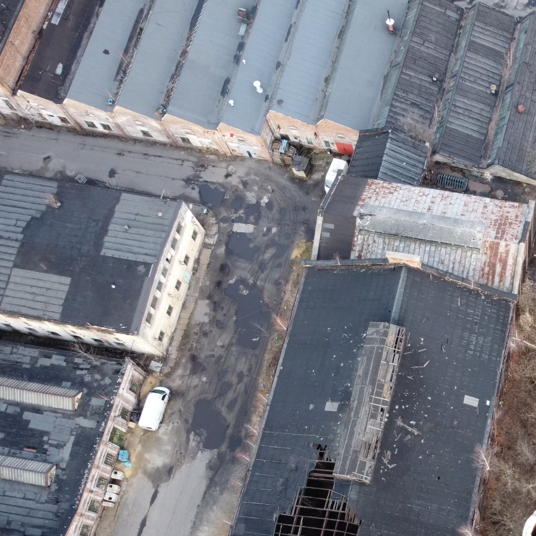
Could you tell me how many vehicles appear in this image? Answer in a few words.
2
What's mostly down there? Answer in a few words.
buildings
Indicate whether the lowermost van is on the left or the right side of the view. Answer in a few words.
left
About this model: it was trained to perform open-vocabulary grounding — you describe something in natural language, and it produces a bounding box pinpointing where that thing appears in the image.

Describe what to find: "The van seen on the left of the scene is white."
[135,388,171,429]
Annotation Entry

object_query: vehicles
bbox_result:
[320,150,347,193]
[135,388,171,429]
